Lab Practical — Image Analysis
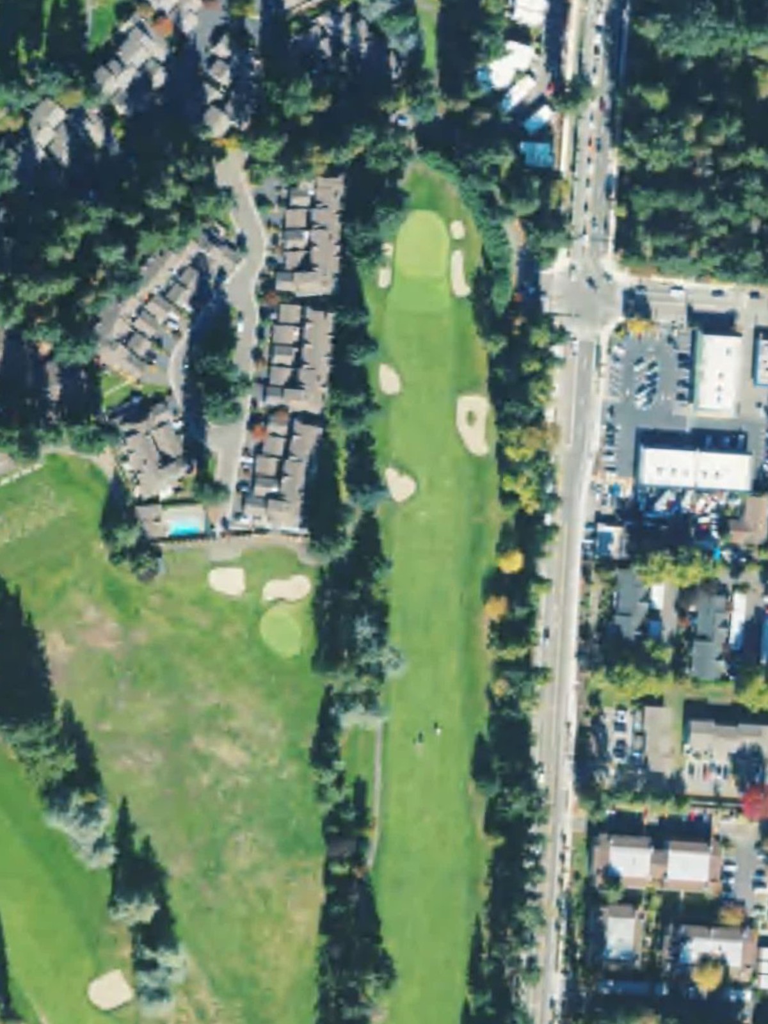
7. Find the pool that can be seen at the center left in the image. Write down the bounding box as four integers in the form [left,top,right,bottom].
[160,507,207,539]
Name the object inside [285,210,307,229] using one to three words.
building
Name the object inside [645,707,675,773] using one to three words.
house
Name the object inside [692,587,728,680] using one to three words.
house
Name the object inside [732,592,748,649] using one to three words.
trailer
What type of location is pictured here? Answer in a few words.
golf course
